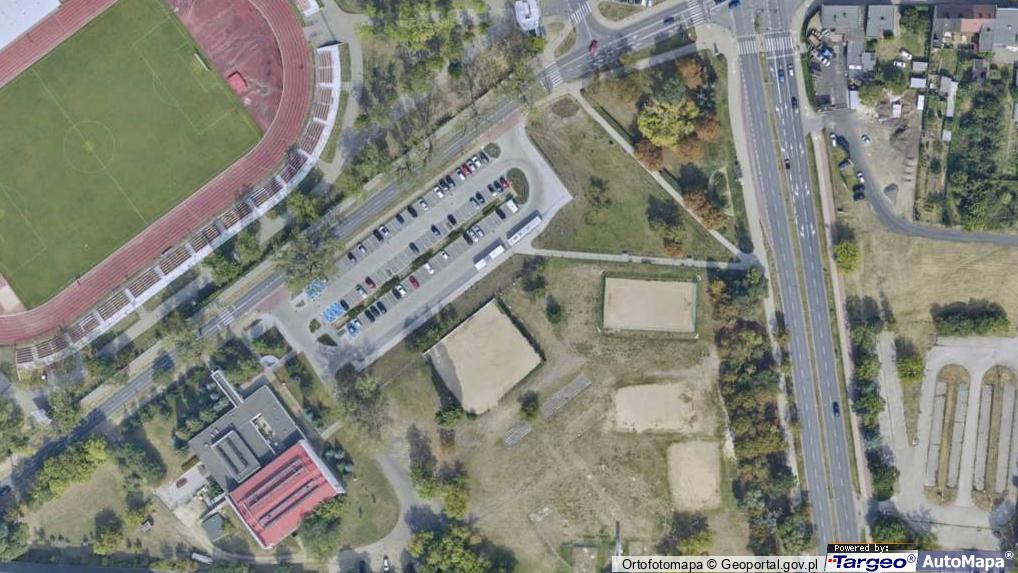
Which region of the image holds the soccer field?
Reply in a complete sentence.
The soccer field is in the top left part of the image.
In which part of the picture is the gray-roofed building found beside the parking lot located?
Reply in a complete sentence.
The gray-roofed building found beside the parking lot is in the bottom left part of the image.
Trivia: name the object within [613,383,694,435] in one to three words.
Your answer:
sports court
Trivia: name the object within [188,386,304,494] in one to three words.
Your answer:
building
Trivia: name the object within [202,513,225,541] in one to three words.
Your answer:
shed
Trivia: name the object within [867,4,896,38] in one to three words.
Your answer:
house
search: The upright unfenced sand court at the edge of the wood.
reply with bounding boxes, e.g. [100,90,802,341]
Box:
[668,441,720,511]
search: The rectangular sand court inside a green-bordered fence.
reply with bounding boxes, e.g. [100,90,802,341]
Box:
[602,278,696,332]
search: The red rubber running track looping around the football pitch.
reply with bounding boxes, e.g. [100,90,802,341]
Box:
[0,0,312,341]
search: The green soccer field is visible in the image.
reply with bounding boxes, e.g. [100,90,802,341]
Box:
[0,0,261,303]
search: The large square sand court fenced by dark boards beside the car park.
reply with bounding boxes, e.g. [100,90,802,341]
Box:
[431,302,540,412]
